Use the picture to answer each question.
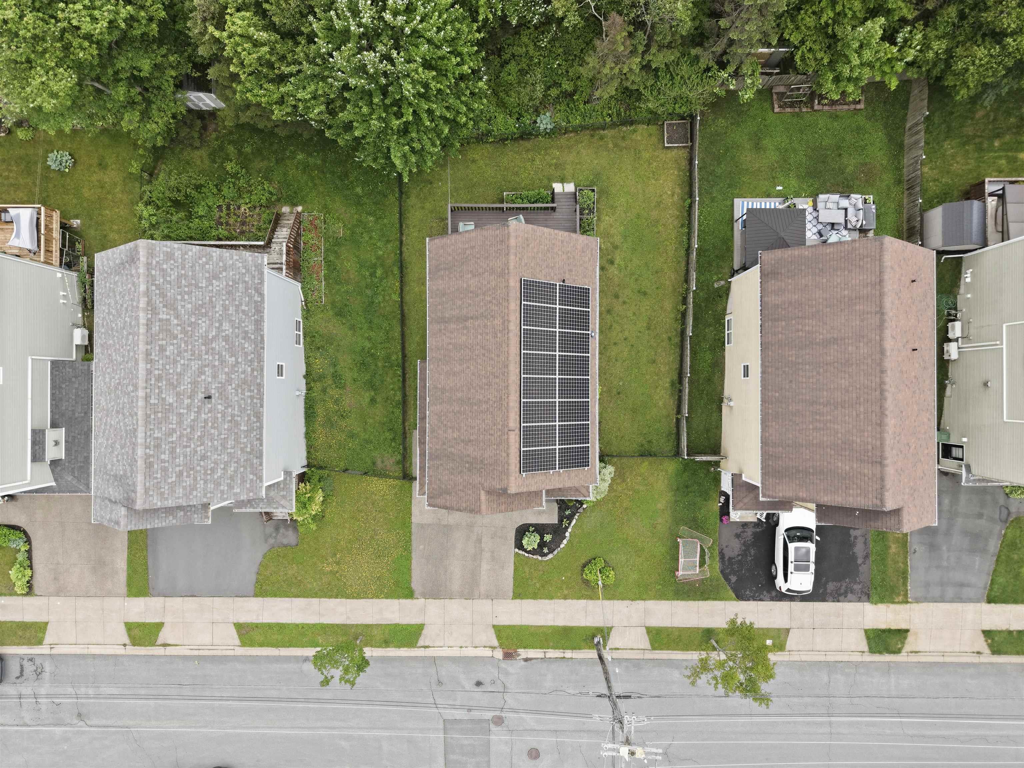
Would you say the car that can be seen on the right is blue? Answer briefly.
No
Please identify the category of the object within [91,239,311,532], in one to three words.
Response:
house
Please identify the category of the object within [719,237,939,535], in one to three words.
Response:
house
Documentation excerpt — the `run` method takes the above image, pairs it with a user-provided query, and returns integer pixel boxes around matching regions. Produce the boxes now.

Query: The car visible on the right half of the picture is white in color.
[771,505,820,596]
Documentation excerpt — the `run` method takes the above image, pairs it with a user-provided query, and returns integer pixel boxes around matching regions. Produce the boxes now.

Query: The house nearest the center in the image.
[416,223,601,515]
